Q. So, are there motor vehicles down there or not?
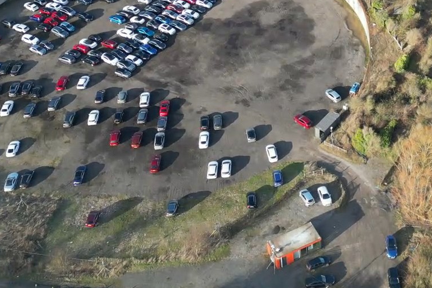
Yes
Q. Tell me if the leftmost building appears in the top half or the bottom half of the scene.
bottom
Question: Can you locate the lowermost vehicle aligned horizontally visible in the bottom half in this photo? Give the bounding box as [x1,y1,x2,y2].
[302,272,337,288]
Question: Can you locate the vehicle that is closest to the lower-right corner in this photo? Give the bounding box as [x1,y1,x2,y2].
[385,265,403,288]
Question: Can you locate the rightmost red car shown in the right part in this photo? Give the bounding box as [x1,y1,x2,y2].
[291,113,314,130]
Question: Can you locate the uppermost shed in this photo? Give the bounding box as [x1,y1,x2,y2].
[315,111,340,143]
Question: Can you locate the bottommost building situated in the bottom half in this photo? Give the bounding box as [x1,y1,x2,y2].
[266,221,321,268]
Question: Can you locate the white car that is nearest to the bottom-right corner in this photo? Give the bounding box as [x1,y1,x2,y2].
[316,183,334,209]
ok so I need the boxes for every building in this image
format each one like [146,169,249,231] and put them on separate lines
[266,221,321,268]
[315,111,340,143]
